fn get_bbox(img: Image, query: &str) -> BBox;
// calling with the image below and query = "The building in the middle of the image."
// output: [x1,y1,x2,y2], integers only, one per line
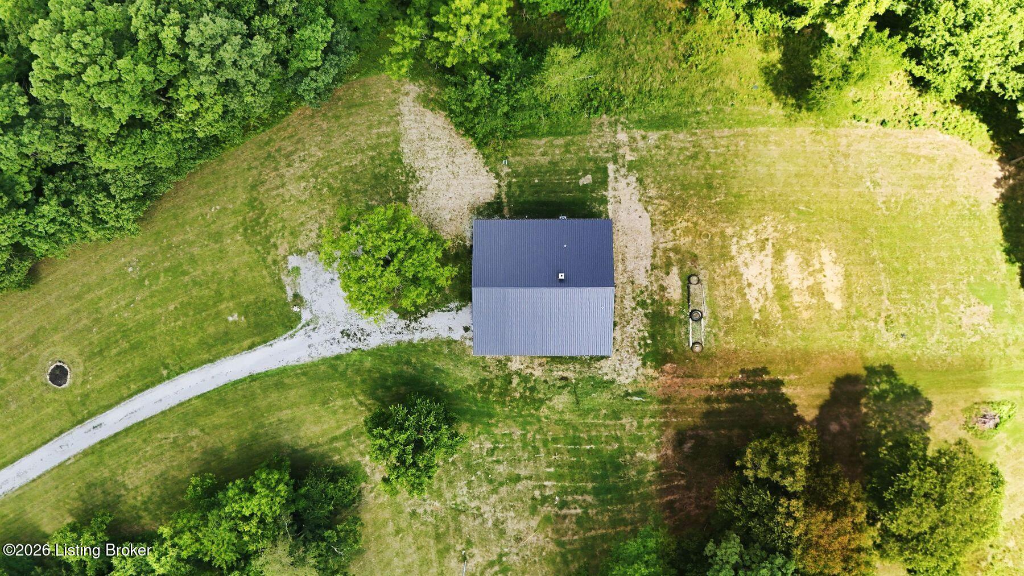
[471,219,616,357]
